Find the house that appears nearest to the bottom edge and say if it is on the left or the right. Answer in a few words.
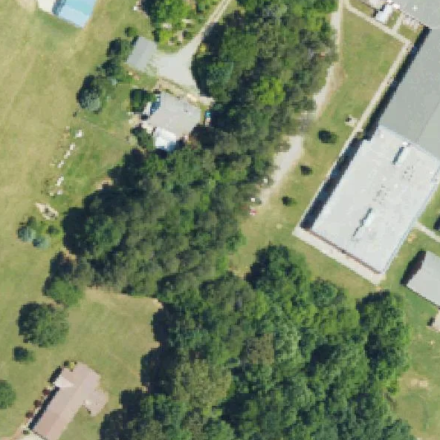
left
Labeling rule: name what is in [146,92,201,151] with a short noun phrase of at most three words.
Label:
house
